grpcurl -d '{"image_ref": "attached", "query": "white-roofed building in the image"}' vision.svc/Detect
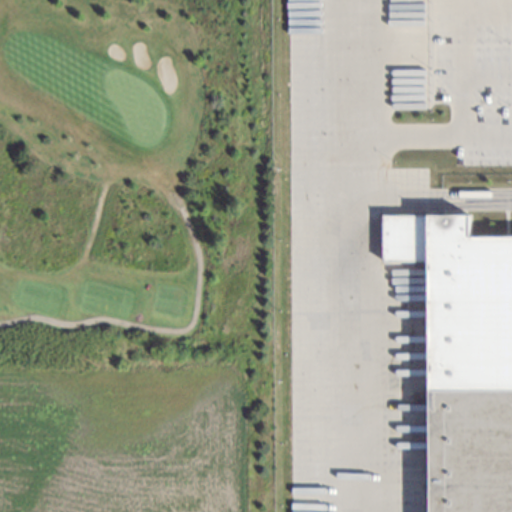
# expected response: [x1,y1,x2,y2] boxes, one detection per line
[382,214,512,512]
